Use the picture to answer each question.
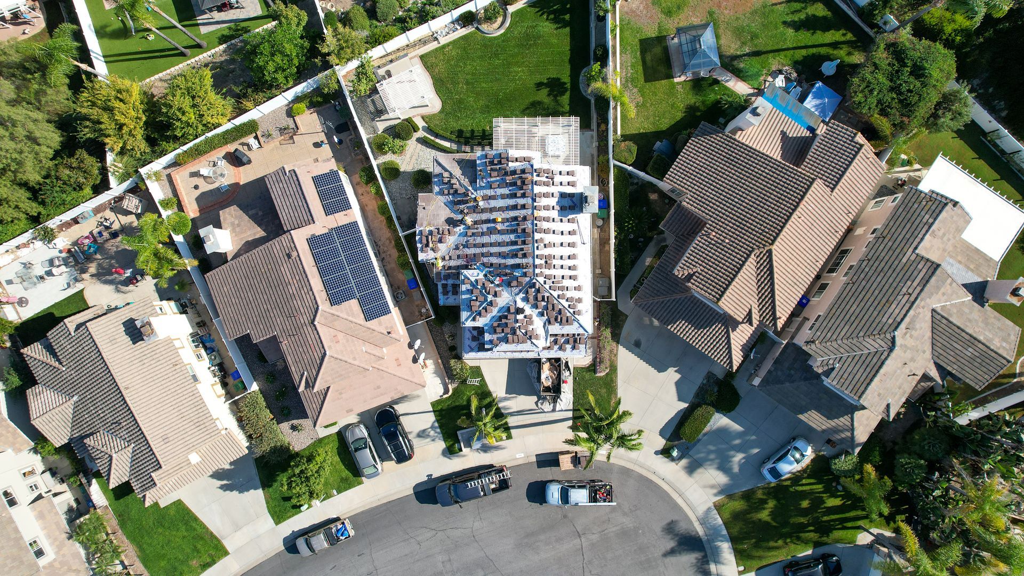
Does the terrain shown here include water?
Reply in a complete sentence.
No, the picture contains no water.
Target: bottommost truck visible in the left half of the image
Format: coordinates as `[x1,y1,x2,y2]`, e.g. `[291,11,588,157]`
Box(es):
[296,514,359,555]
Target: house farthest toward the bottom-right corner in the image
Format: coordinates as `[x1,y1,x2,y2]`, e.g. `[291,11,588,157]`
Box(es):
[756,185,1024,456]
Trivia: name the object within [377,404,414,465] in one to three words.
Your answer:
car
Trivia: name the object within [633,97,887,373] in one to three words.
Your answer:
house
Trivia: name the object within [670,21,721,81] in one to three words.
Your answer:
gazebo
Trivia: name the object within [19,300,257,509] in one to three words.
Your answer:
house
